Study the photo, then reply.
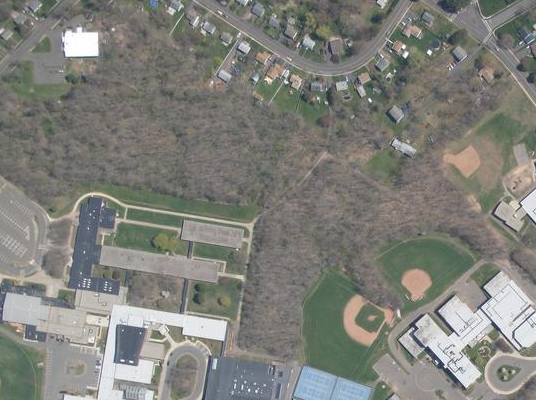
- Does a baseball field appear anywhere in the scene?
Yes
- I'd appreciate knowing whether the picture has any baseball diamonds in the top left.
No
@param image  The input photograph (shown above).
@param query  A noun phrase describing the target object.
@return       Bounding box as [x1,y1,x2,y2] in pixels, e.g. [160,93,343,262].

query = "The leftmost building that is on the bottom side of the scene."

[2,197,245,400]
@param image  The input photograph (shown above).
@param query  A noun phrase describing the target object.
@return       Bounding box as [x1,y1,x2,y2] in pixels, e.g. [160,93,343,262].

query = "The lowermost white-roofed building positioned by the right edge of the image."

[398,271,536,389]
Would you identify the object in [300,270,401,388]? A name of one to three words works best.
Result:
baseball field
